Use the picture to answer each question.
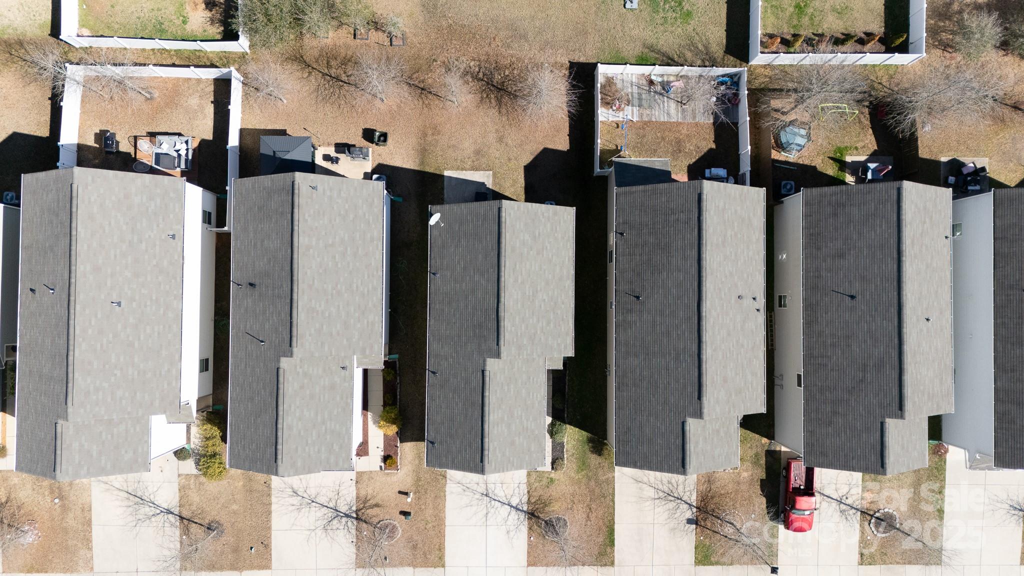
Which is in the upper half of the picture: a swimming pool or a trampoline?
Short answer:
trampoline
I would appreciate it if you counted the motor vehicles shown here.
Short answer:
1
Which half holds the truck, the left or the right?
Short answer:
right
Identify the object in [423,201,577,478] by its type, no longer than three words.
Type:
house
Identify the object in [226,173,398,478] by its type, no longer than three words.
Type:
house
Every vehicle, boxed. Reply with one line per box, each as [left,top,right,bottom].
[782,453,820,532]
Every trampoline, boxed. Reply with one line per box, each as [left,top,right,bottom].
[772,115,817,160]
